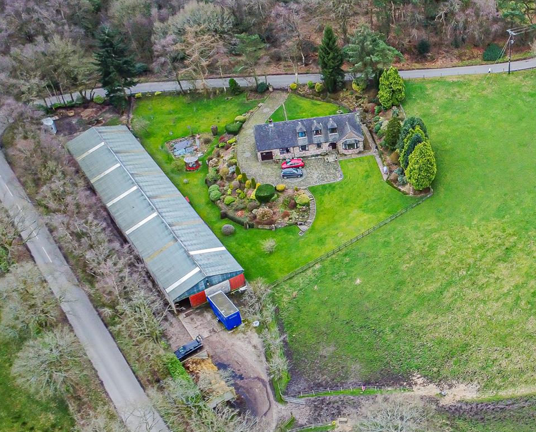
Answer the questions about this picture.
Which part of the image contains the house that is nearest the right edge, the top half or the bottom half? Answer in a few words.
top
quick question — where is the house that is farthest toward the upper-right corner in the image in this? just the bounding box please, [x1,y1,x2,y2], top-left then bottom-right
[252,107,365,161]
